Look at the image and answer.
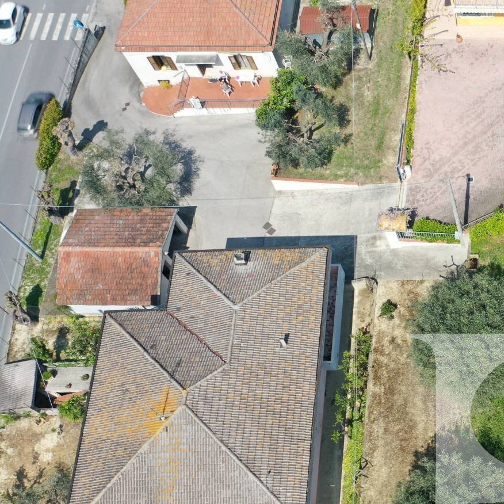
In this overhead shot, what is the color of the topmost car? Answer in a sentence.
The color of the topmost car is white.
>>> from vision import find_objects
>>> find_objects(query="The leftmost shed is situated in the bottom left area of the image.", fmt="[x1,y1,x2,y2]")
[0,359,52,428]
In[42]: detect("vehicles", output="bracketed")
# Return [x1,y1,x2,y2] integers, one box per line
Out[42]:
[14,94,51,136]
[0,5,25,42]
